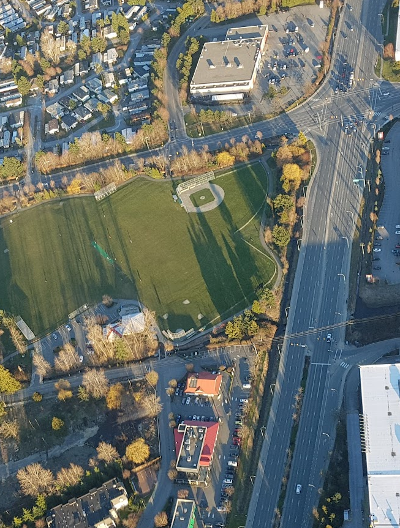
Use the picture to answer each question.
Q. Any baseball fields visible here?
Yes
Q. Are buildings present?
Yes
